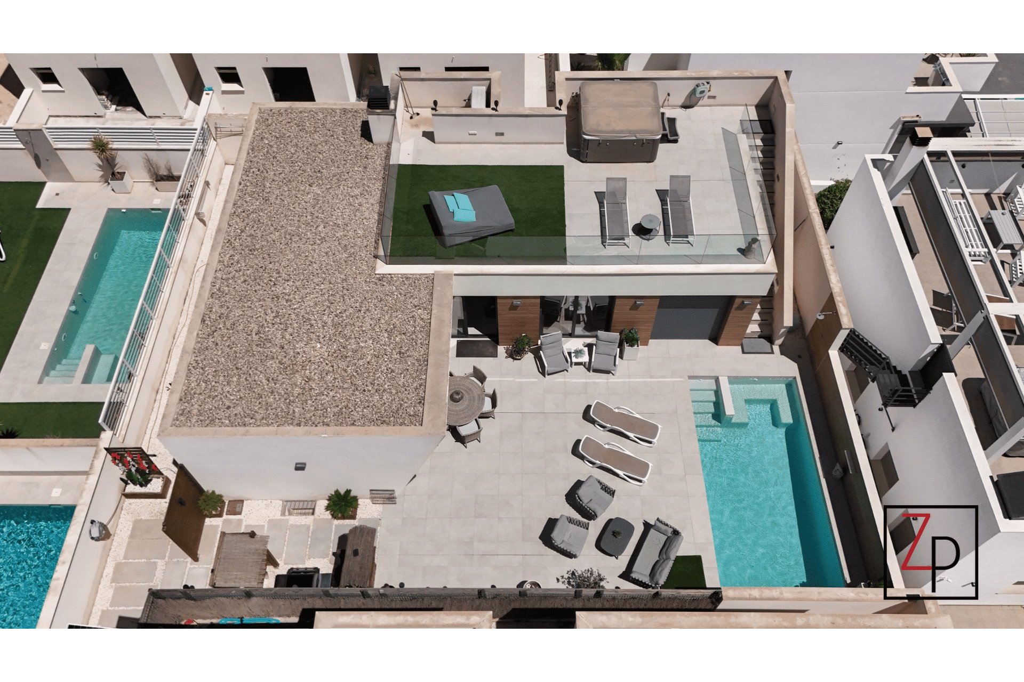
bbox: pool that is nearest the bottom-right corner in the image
[689,375,845,587]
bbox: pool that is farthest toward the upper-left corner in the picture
[38,209,185,384]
